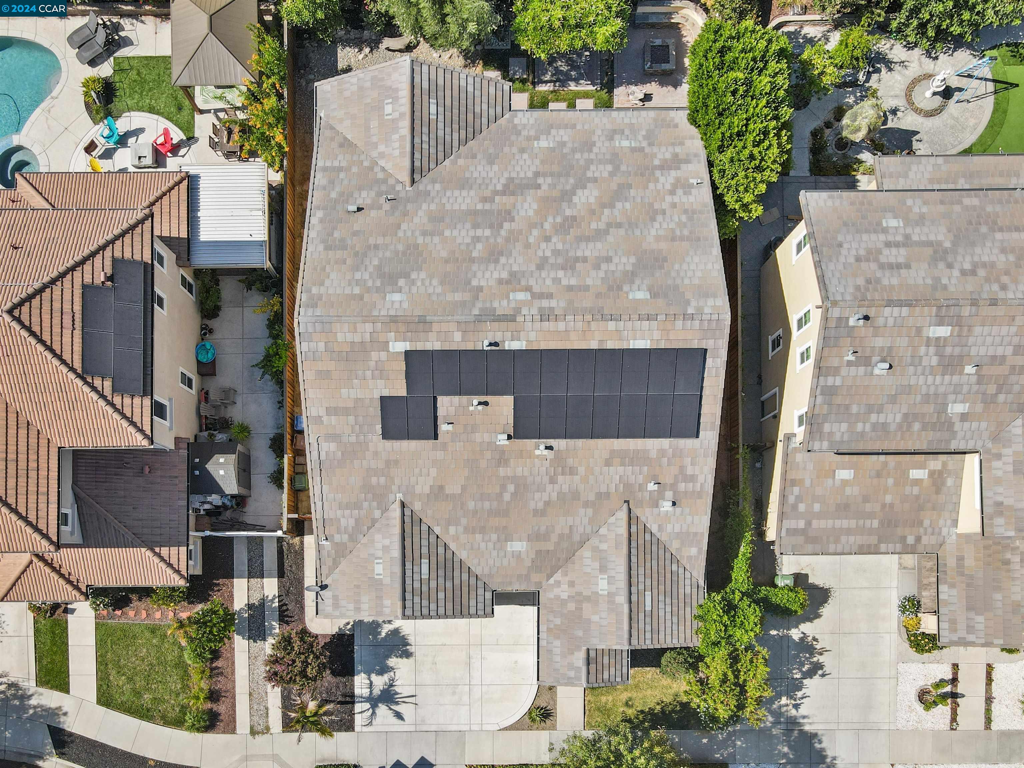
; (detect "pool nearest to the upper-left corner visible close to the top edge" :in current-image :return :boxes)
[0,28,68,138]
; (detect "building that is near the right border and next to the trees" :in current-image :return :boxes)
[759,152,1024,649]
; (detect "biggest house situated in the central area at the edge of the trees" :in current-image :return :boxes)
[294,54,730,687]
